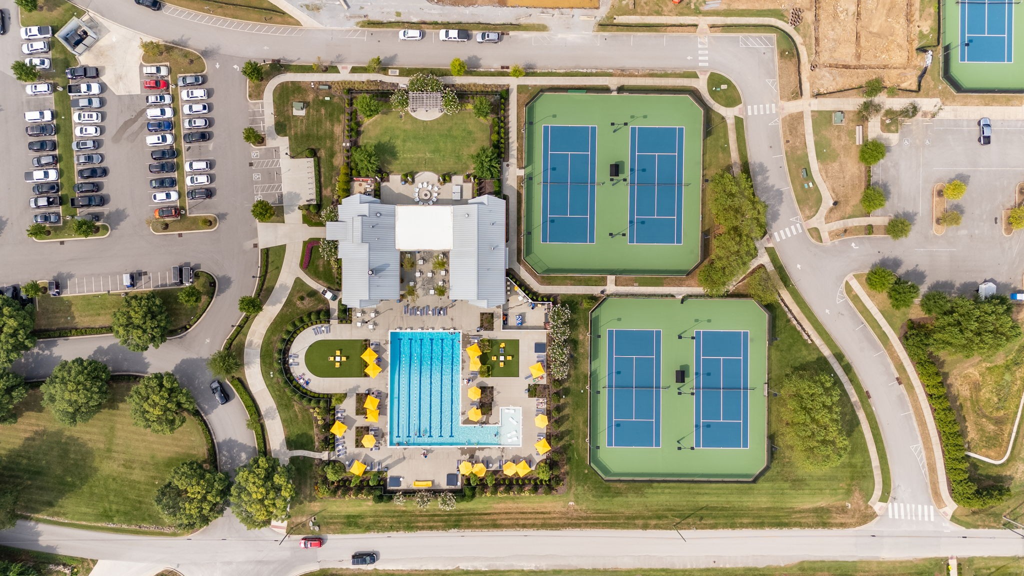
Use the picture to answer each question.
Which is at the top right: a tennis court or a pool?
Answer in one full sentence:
What appears at the top right is a tennis court.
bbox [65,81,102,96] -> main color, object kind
white vehicle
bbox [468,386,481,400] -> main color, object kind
yellow umbrella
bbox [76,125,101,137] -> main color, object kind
white vehicle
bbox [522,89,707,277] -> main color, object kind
green tennis court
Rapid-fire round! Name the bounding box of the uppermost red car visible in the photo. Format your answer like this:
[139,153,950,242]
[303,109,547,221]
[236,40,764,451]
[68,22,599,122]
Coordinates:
[143,78,169,91]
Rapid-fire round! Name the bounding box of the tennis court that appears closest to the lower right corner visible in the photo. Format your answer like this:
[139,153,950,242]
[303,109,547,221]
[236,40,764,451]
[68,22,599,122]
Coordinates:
[588,297,773,483]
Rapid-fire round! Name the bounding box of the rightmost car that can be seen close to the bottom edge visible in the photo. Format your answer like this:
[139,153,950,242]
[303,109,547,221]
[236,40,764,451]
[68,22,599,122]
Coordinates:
[352,552,377,565]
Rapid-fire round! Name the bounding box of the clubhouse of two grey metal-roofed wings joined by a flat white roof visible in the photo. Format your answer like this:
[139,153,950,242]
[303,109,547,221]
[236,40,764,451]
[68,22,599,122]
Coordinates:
[322,194,508,308]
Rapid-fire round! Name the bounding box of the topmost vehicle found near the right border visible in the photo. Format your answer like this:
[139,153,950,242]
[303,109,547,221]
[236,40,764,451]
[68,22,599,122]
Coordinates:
[977,118,992,146]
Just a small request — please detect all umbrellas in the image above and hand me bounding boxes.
[465,342,482,358]
[467,357,483,370]
[330,419,348,437]
[459,461,473,475]
[360,347,379,365]
[363,394,381,410]
[528,362,545,379]
[364,361,382,379]
[468,386,481,400]
[535,414,548,428]
[350,458,368,477]
[503,462,516,476]
[535,438,551,455]
[366,408,380,422]
[361,434,377,448]
[516,460,532,477]
[472,463,486,476]
[468,407,482,422]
